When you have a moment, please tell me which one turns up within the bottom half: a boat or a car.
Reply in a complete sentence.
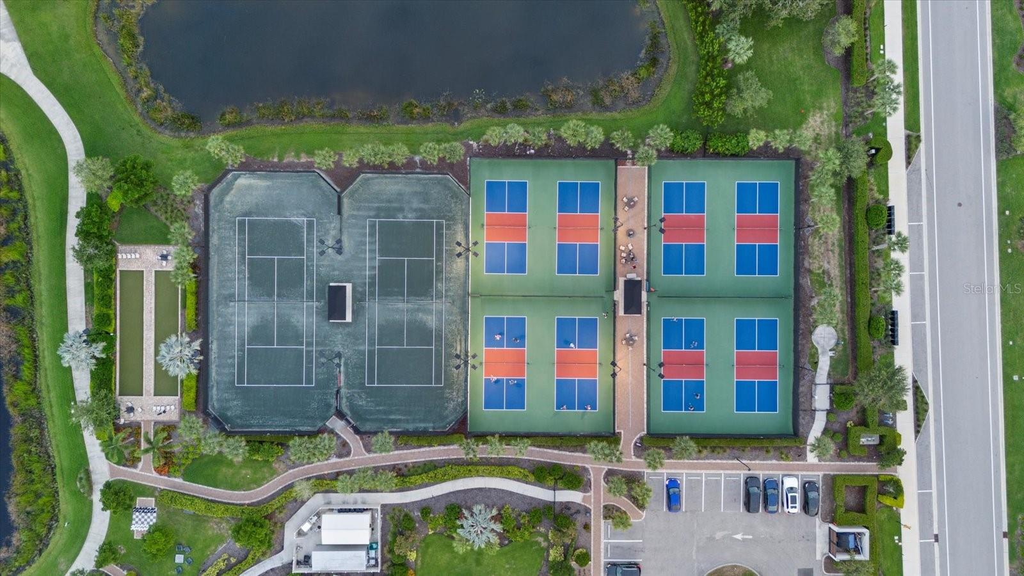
The feature located within the bottom half is a car.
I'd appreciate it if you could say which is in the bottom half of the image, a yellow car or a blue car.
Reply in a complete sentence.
It is a blue car that can be seen in the bottom half of the image.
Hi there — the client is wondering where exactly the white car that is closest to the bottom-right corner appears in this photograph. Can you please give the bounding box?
[782,476,801,513]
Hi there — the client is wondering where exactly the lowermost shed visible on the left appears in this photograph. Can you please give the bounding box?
[312,545,368,571]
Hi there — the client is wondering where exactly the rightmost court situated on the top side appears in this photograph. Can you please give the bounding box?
[721,160,794,296]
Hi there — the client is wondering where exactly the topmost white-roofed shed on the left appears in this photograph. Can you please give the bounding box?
[321,510,373,544]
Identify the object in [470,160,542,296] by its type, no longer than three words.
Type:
sports court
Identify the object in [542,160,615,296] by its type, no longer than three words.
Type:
sports court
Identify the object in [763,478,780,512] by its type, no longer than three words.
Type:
car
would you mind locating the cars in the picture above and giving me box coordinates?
[665,478,681,511]
[782,476,801,513]
[744,476,762,512]
[802,481,821,515]
[763,478,780,512]
[606,562,641,576]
